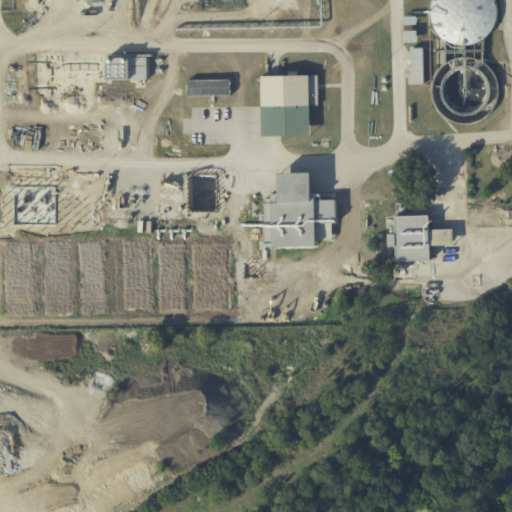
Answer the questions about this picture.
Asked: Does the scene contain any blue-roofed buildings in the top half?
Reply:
No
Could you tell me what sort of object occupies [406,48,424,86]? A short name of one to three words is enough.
shed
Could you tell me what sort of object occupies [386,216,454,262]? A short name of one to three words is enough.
building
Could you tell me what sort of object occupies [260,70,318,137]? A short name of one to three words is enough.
building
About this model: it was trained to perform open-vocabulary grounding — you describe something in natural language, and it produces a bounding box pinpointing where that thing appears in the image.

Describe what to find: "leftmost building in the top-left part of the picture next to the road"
[105,54,152,89]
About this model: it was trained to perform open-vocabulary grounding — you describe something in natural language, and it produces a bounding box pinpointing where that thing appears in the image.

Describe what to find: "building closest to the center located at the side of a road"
[262,173,336,248]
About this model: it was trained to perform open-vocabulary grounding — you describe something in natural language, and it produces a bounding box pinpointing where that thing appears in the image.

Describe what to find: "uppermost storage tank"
[422,0,498,46]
